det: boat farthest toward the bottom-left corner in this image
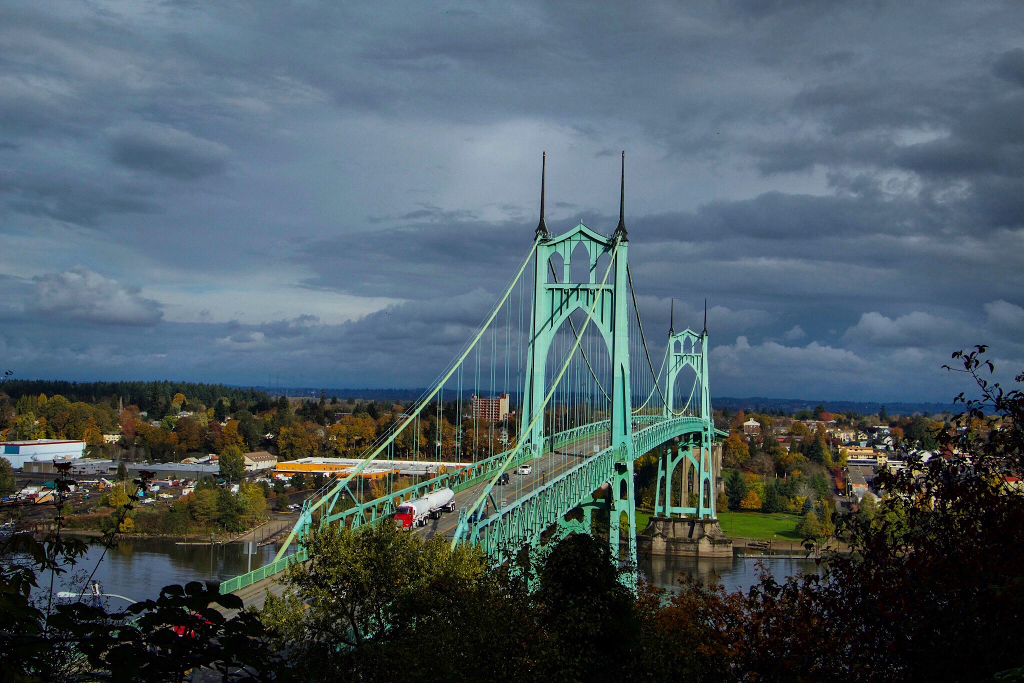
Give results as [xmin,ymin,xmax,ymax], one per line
[0,513,35,540]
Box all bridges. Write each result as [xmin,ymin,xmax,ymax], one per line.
[4,150,734,683]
